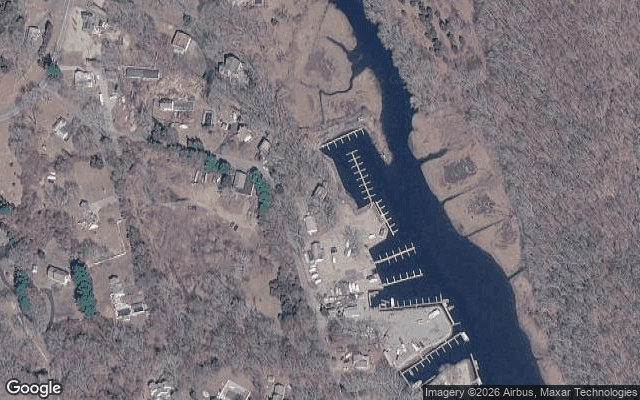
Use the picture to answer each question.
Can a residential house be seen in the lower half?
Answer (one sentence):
Yes, a residential house appears in the lower half.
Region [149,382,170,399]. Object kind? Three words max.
house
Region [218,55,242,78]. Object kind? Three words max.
house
